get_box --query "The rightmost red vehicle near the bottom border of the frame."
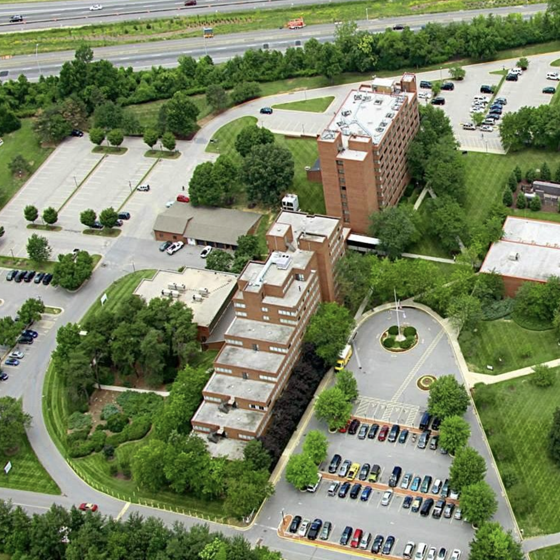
[349,528,365,549]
